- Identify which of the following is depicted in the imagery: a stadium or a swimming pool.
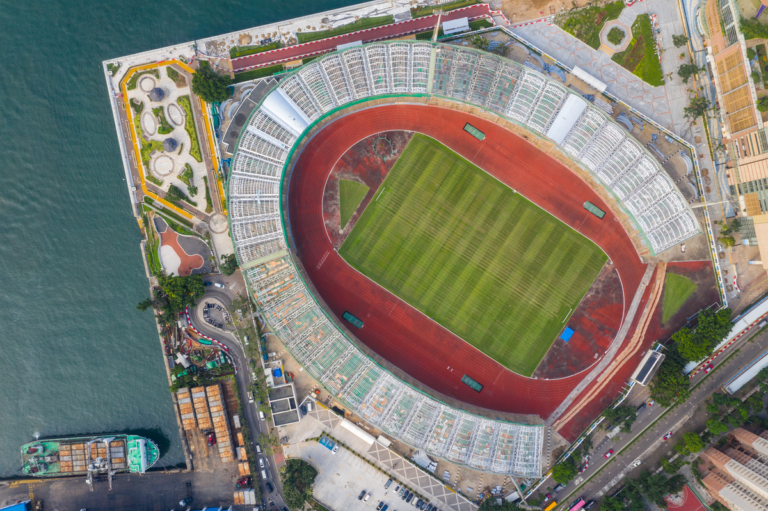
stadium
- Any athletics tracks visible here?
Yes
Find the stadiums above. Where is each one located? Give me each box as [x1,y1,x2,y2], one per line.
[226,40,703,479]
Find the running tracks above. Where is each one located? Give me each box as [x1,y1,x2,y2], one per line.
[287,104,724,443]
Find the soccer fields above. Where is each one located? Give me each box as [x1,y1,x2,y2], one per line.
[339,135,610,375]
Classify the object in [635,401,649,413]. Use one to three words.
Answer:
vehicle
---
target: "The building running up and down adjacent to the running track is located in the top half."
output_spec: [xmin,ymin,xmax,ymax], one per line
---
[698,0,768,277]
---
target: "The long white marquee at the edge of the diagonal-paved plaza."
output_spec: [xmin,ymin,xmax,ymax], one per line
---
[340,416,375,444]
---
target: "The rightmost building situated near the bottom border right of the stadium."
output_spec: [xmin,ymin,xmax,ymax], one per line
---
[701,410,768,511]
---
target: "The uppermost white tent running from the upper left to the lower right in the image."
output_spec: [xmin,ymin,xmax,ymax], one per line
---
[569,65,607,95]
